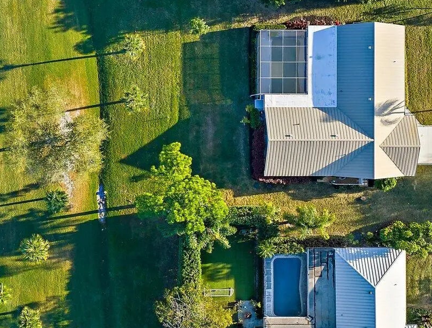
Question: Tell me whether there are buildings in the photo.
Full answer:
Yes, the picture does show a building.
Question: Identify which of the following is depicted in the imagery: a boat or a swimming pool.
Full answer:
It is a swimming pool that can be seen here.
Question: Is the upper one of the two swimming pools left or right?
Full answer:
The upper one of the two swimming pools sits on the right side.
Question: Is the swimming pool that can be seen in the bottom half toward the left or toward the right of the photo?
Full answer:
The swimming pool that can be seen in the bottom half is on the right side of the image.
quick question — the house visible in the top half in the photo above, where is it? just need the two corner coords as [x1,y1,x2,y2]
[262,22,422,180]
